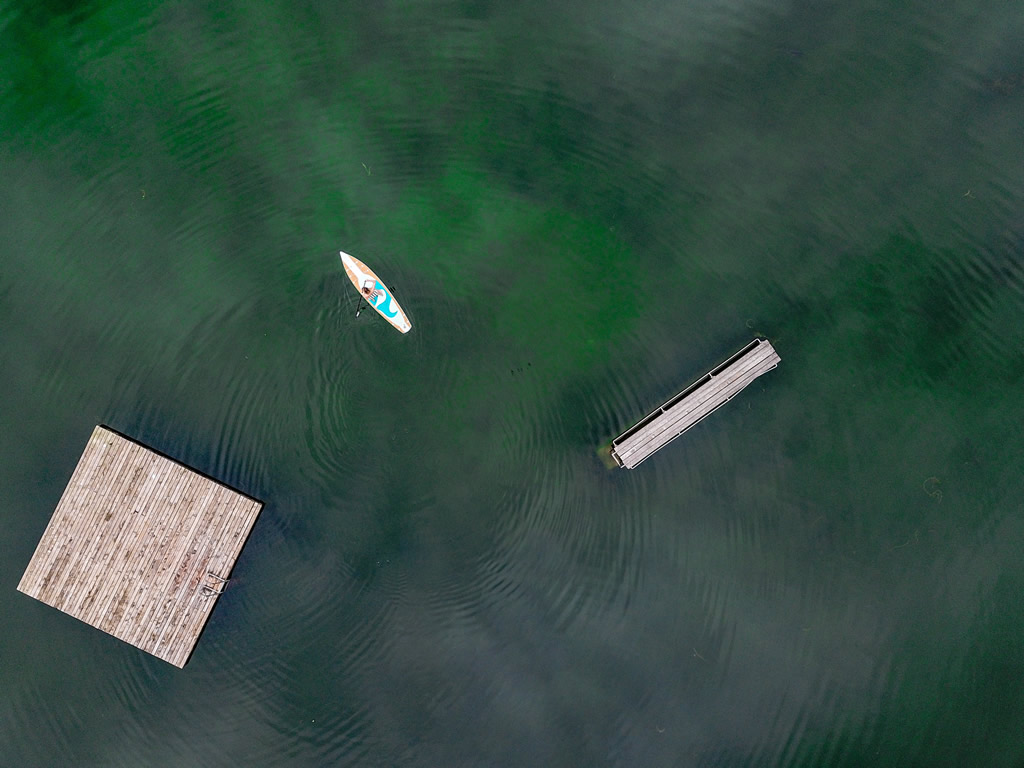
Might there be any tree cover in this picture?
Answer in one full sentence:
No, there's no tree cover in this view.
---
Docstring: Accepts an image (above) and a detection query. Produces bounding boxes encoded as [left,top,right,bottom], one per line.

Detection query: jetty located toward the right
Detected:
[609,338,781,469]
